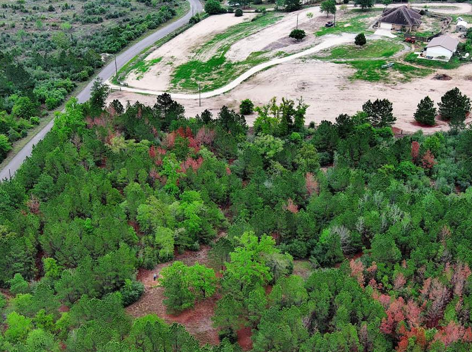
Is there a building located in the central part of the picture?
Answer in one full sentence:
No, in the central part of the picture there is no building.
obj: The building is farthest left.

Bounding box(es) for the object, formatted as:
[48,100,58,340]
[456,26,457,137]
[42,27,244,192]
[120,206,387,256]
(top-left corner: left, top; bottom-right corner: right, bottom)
[378,7,433,33]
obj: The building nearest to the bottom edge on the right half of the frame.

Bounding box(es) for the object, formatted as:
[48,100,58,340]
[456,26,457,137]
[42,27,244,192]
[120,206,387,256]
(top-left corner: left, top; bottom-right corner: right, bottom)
[424,34,461,59]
